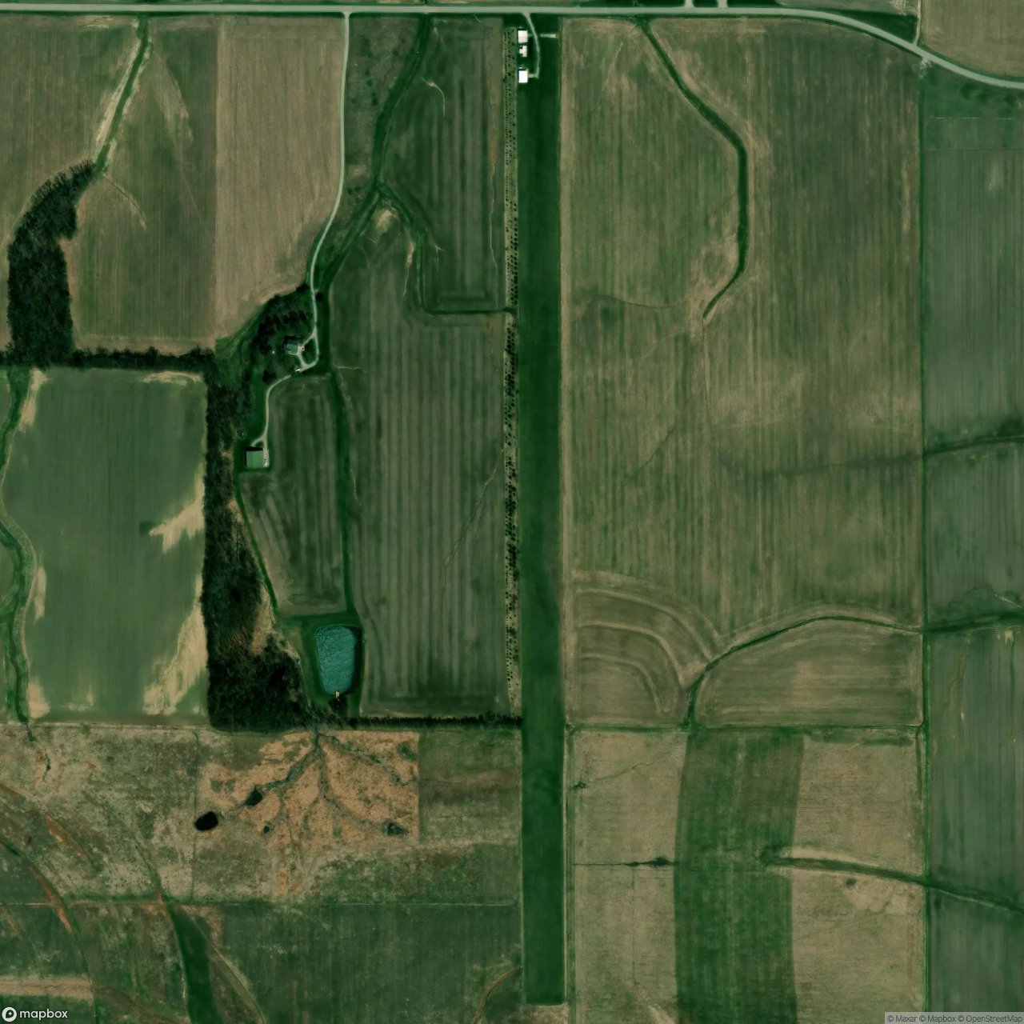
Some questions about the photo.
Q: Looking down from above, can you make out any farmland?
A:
Yes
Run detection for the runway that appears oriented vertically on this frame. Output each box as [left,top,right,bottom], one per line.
[517,17,565,1004]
